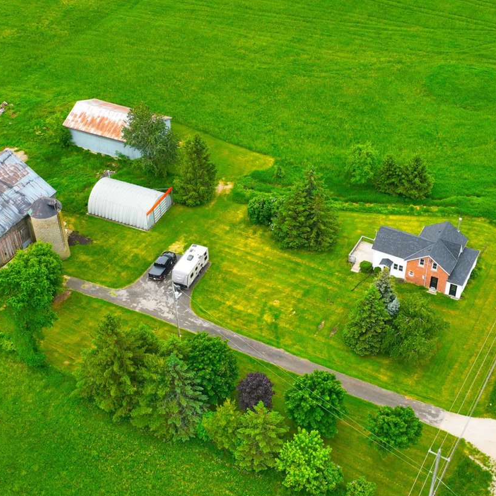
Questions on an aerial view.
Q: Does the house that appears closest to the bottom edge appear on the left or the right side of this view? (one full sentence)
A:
The house that appears closest to the bottom edge sits on the right side.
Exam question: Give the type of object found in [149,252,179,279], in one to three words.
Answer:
truck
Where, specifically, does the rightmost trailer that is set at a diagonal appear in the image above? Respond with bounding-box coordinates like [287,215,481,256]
[172,243,209,290]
